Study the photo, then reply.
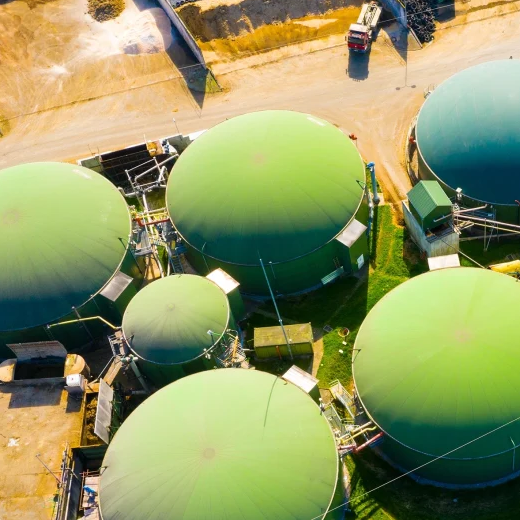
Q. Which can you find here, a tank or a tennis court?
tank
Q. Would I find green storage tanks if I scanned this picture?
Yes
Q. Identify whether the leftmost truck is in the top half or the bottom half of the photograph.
top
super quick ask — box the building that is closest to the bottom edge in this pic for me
[281,365,324,405]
